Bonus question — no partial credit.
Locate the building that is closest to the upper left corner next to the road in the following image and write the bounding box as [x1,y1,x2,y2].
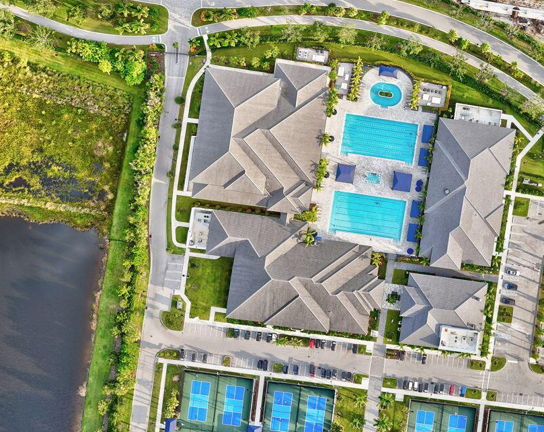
[189,60,330,214]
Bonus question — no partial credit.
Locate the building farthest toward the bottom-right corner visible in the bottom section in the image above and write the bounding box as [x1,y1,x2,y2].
[395,273,489,353]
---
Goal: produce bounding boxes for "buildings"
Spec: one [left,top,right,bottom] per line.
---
[420,118,515,269]
[207,210,385,334]
[189,60,330,214]
[395,273,489,353]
